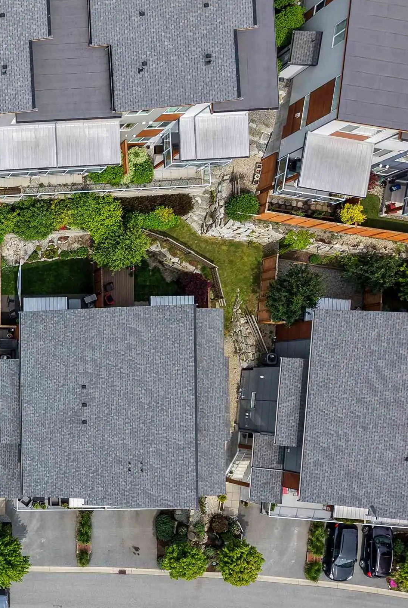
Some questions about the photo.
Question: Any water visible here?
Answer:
No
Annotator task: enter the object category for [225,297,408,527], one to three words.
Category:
house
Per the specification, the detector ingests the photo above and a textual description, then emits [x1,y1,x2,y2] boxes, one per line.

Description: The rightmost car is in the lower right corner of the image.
[356,524,392,579]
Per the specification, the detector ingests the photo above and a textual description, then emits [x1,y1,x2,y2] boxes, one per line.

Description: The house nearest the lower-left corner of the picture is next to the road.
[0,295,231,510]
